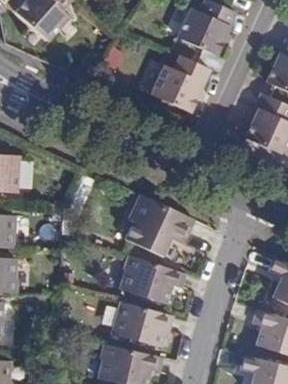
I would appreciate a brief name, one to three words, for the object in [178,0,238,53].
house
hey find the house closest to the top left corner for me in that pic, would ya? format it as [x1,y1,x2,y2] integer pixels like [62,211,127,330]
[18,0,76,42]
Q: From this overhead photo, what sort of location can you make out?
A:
residential area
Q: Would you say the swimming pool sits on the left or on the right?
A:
left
